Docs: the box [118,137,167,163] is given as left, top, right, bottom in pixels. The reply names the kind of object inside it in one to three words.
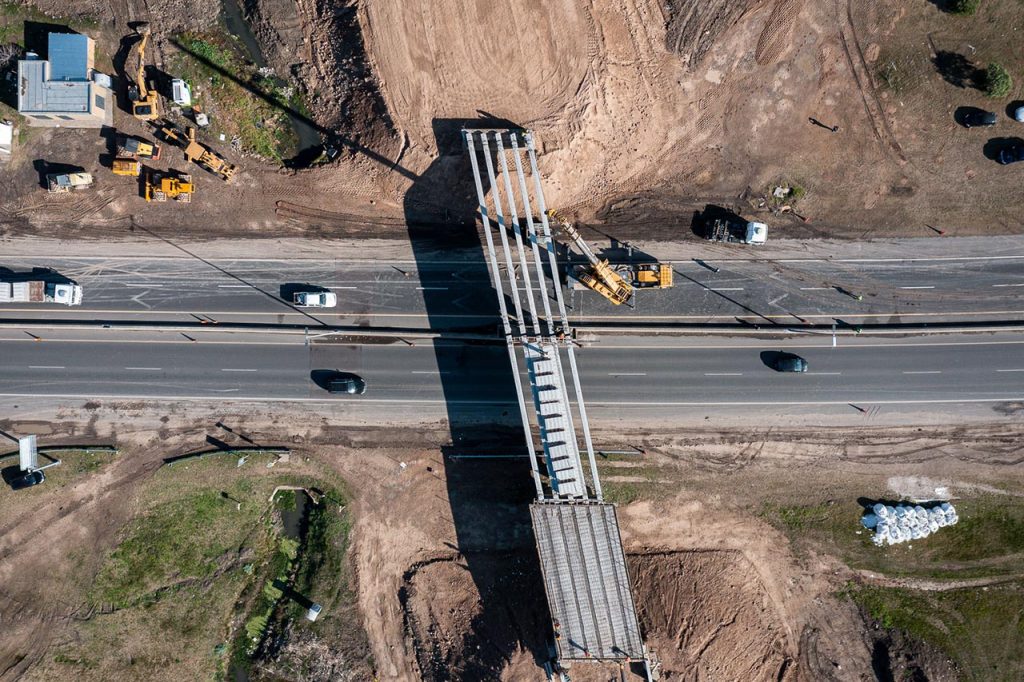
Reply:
work vehicle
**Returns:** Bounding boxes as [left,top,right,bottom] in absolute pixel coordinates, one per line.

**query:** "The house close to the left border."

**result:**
[19,34,113,129]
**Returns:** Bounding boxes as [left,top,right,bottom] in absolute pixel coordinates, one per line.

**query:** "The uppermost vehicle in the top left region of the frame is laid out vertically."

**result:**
[129,30,166,126]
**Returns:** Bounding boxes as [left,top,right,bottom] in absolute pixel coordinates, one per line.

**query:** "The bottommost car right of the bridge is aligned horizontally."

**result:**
[774,356,808,373]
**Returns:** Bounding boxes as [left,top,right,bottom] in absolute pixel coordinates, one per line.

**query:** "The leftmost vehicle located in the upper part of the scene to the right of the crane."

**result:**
[703,219,769,245]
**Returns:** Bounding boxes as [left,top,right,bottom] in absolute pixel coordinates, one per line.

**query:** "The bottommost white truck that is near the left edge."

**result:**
[0,281,87,308]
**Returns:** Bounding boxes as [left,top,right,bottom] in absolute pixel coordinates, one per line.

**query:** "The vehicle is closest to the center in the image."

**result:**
[330,376,367,394]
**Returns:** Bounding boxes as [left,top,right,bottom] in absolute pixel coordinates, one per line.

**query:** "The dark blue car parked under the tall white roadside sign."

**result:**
[11,469,48,490]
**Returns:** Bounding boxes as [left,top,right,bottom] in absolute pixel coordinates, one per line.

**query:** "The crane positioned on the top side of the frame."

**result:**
[542,207,675,311]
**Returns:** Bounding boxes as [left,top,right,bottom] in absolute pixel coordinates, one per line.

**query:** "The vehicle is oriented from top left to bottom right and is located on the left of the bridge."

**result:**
[161,125,237,181]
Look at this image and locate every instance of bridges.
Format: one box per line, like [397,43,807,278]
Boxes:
[461,129,652,682]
